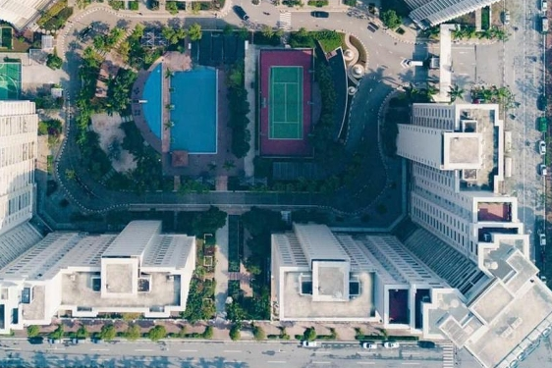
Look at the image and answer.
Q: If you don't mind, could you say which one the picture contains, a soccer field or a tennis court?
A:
tennis court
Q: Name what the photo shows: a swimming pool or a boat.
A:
swimming pool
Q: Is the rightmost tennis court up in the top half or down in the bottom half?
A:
top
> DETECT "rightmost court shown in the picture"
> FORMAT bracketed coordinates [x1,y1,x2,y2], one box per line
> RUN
[259,47,317,159]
